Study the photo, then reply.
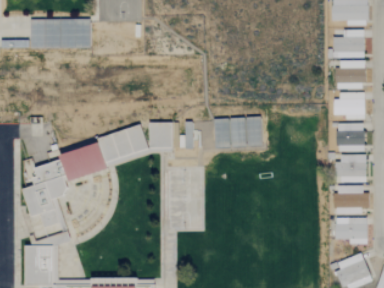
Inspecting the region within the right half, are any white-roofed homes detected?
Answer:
Yes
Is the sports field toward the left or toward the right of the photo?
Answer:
right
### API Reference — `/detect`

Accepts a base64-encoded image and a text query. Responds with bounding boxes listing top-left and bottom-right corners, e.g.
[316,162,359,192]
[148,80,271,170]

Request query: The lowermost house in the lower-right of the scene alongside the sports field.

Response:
[332,253,372,288]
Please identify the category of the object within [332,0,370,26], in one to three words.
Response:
house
